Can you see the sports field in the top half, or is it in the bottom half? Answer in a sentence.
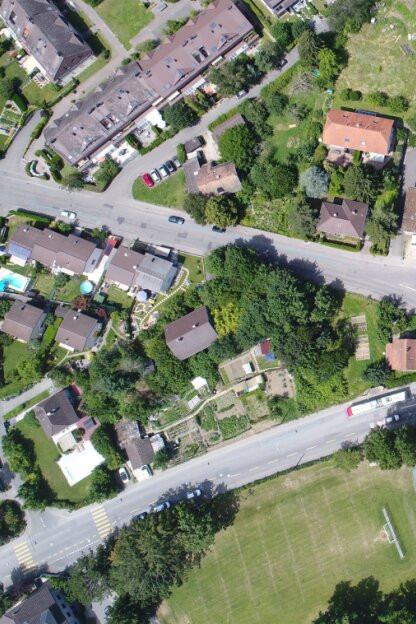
The sports field is in the bottom half of the image.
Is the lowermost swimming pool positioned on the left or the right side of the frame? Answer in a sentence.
The lowermost swimming pool sits on the left side.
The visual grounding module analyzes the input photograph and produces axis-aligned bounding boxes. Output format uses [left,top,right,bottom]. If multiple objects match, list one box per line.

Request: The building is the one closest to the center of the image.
[165,307,223,356]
